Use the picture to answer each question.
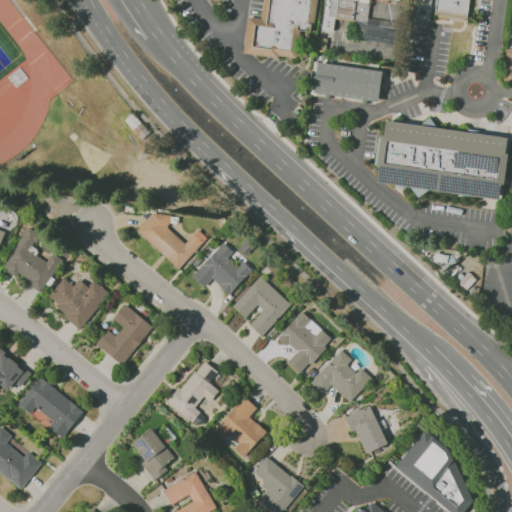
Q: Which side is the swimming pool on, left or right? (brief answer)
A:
right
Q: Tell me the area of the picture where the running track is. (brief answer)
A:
top left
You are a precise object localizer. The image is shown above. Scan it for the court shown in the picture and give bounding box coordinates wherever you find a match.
[0,22,26,80]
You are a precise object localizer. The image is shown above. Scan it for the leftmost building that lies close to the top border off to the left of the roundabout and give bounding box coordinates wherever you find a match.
[244,0,317,57]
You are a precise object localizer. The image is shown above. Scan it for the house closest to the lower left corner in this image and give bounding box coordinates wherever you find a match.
[0,428,41,490]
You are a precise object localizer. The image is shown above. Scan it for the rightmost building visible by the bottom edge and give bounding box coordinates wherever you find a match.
[398,432,474,512]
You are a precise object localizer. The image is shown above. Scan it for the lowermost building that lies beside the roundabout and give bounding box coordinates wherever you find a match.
[374,118,508,197]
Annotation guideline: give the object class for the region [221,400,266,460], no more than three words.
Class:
house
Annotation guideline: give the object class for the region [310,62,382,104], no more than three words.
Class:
building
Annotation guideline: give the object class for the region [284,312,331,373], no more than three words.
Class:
house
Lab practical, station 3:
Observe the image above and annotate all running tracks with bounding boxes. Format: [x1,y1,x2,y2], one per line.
[0,0,73,164]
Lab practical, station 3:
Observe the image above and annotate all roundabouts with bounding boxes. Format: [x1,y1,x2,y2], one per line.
[448,0,512,118]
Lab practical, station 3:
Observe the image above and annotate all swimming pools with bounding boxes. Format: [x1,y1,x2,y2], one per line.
[350,347,370,368]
